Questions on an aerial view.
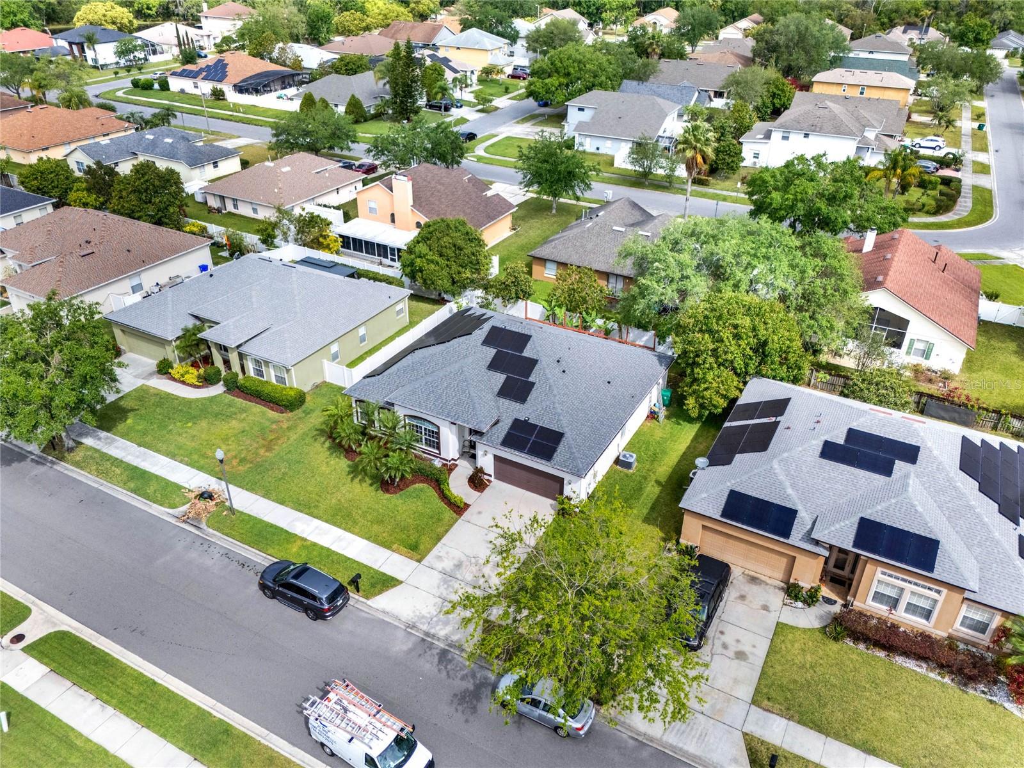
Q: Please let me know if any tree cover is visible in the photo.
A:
Yes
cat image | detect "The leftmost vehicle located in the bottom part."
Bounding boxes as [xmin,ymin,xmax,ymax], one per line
[257,558,354,622]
